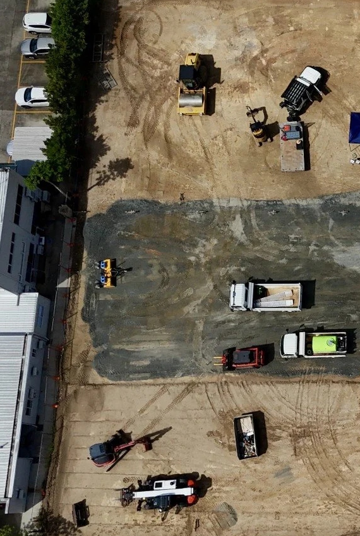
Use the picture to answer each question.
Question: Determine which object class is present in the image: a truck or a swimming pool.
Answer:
truck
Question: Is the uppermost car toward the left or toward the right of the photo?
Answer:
left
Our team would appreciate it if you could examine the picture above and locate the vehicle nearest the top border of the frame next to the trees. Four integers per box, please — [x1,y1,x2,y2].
[25,13,65,38]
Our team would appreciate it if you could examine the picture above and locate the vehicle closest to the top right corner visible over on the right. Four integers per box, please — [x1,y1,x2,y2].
[278,59,326,114]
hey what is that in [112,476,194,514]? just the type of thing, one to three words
work vehicle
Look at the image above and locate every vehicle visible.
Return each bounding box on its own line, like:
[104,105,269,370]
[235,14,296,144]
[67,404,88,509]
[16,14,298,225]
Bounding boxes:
[246,105,274,141]
[226,279,307,314]
[25,13,65,38]
[278,328,351,361]
[92,427,158,474]
[216,346,265,372]
[278,59,326,114]
[18,84,64,110]
[24,34,65,62]
[96,258,122,286]
[112,476,194,514]
[176,54,207,117]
